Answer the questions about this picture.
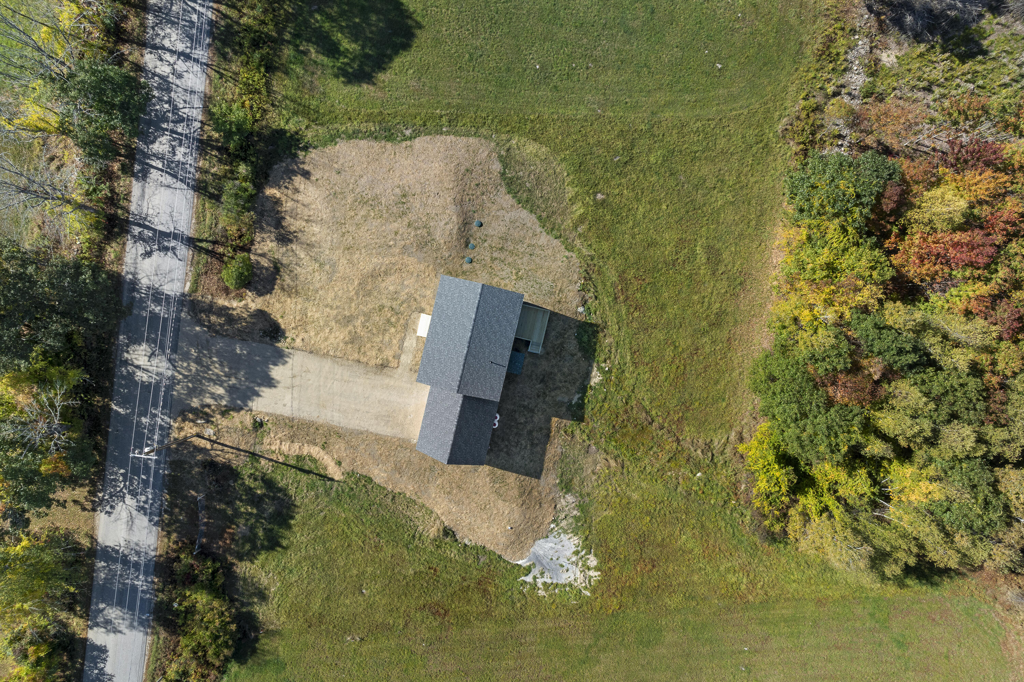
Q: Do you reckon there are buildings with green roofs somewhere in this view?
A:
No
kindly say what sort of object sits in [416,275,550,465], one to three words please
house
